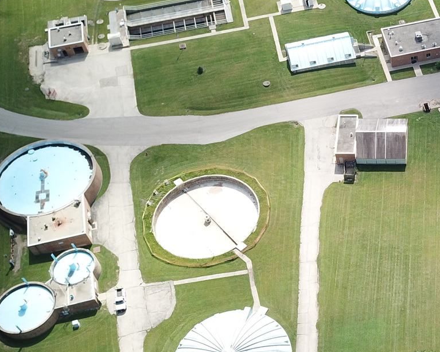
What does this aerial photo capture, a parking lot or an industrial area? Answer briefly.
industrial area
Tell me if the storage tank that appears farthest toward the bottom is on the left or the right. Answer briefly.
left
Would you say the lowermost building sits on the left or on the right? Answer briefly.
left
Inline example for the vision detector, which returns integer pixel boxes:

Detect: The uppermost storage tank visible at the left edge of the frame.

[0,139,102,229]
